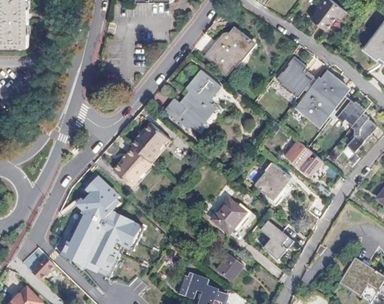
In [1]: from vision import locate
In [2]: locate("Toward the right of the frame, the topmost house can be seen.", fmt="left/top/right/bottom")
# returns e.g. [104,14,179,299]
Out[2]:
[311,0,348,33]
